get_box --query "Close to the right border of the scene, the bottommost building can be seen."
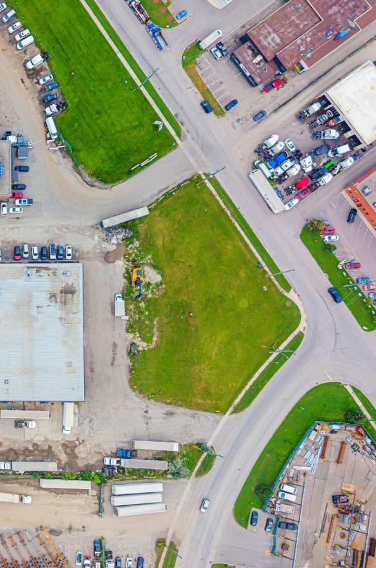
[341,166,376,249]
